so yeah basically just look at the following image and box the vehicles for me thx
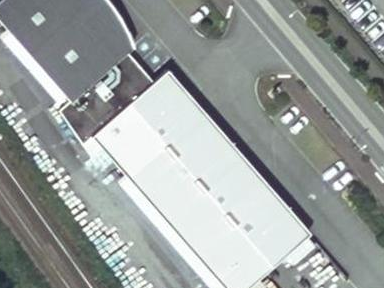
[366,20,384,40]
[358,10,381,30]
[350,0,373,20]
[188,6,210,24]
[342,0,358,8]
[324,162,344,180]
[289,115,310,134]
[373,35,384,51]
[282,106,304,126]
[298,278,312,288]
[332,172,354,191]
